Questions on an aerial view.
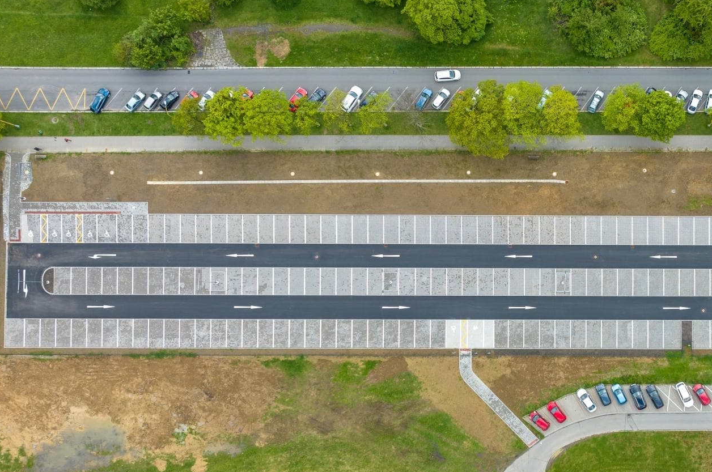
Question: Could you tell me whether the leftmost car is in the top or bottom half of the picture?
top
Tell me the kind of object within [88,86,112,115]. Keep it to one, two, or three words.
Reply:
car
